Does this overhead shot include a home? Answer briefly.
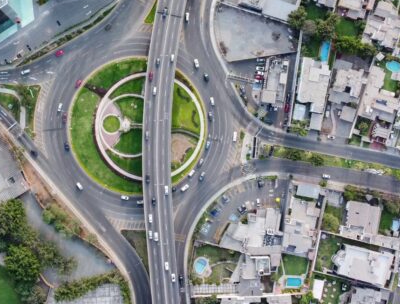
Yes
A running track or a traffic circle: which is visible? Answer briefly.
traffic circle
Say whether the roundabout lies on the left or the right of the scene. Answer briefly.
left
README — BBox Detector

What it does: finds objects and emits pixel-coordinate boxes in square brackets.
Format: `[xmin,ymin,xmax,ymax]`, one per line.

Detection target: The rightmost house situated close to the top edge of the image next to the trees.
[359,0,400,48]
